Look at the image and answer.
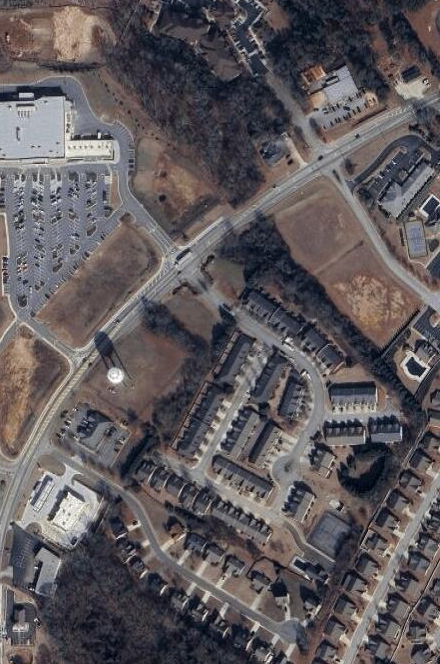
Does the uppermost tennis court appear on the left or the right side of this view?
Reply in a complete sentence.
The uppermost tennis court appears in the right half of the scene.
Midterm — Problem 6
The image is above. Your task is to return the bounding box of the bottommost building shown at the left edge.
[11,611,30,642]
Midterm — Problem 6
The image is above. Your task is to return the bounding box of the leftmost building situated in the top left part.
[0,96,65,167]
